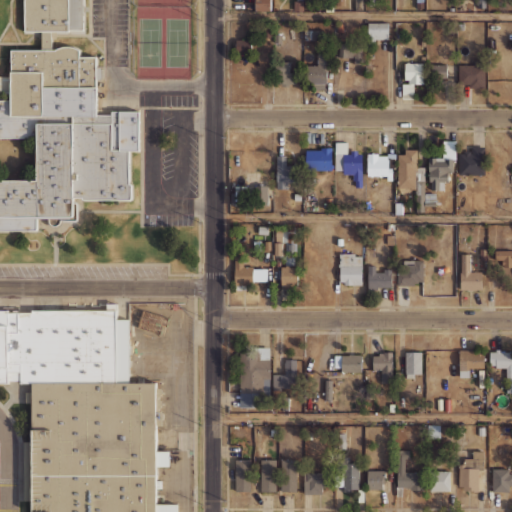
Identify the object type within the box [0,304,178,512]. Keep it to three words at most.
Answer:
building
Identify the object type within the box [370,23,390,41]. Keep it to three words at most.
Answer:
house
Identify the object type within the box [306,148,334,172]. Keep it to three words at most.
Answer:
house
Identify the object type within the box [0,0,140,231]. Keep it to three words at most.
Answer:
building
